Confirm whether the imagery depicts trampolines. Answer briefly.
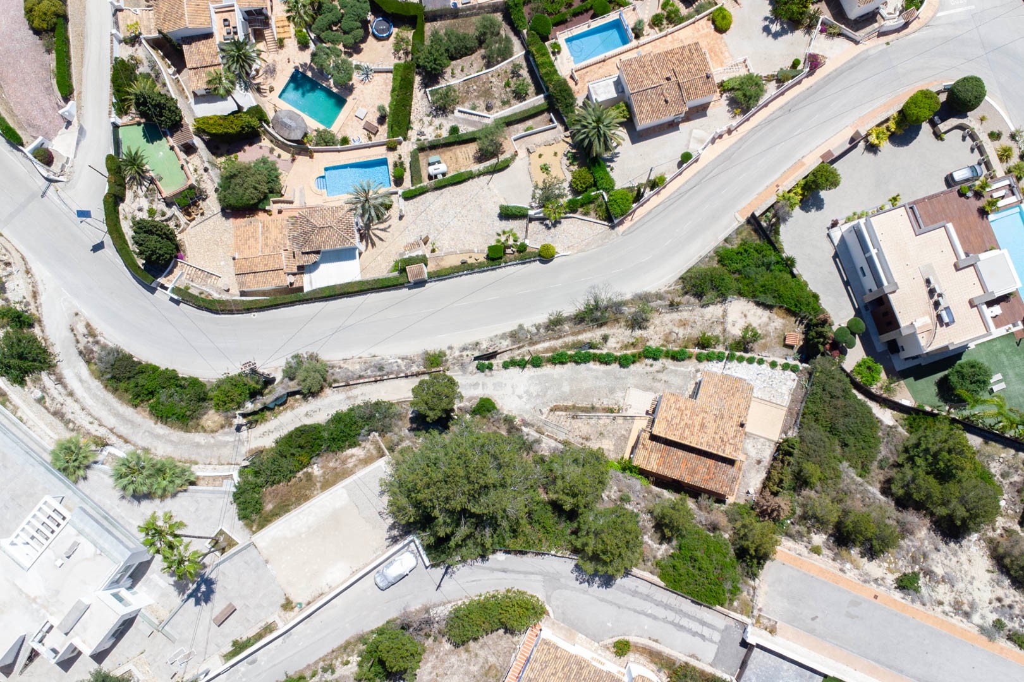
Yes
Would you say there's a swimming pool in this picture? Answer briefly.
Yes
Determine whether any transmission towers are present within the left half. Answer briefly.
Yes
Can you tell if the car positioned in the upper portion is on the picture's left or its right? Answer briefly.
right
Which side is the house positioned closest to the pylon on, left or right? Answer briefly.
left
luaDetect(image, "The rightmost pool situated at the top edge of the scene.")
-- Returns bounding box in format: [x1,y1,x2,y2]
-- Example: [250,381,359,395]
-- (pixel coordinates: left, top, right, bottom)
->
[562,15,634,67]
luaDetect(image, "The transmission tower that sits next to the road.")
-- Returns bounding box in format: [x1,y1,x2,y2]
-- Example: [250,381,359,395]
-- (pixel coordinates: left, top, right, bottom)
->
[226,358,283,390]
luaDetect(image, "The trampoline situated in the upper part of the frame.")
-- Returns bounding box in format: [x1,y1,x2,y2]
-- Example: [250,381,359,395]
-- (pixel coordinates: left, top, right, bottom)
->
[368,14,396,41]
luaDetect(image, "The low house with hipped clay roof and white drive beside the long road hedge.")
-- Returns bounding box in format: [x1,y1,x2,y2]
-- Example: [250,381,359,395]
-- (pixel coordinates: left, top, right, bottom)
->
[234,203,362,291]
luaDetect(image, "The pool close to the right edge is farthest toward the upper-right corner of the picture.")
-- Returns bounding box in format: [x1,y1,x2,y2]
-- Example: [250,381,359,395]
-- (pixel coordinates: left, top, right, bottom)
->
[988,204,1024,289]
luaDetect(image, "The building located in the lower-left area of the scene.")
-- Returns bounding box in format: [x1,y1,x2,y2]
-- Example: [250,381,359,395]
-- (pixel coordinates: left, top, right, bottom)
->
[0,413,171,677]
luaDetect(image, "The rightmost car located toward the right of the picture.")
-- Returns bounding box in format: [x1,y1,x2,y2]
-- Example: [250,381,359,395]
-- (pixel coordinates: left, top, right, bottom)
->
[940,164,984,189]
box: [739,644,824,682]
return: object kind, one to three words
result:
house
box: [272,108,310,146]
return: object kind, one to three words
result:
gazebo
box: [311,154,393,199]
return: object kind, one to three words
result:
swimming pool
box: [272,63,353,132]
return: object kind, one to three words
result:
swimming pool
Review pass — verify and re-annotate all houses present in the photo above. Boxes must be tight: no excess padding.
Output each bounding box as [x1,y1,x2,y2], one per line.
[739,644,824,682]
[844,0,900,21]
[234,203,362,291]
[118,0,288,116]
[503,618,659,682]
[0,413,171,677]
[633,371,786,502]
[817,186,1024,359]
[587,41,717,129]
